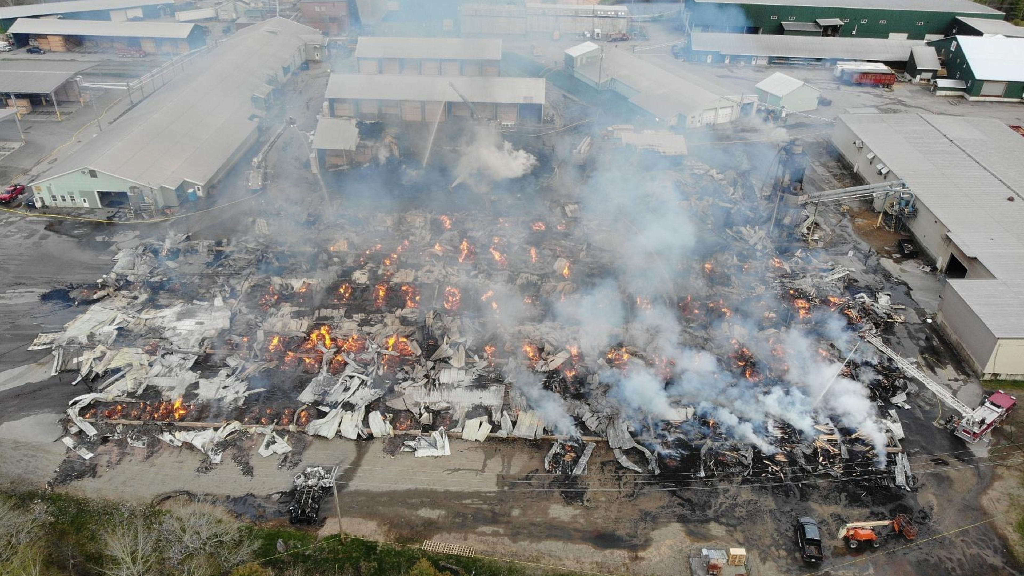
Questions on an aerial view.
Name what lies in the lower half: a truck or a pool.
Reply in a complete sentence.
What appears in the lower half is a truck.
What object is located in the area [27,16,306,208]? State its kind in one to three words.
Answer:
building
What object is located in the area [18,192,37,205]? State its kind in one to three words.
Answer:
vehicle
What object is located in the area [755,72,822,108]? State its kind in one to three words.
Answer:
house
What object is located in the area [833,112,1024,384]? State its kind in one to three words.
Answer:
warehouse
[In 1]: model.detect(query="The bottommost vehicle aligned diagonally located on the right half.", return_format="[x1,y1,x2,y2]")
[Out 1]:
[860,327,1017,450]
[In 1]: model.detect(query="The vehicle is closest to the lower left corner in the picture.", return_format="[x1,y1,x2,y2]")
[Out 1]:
[283,455,341,528]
